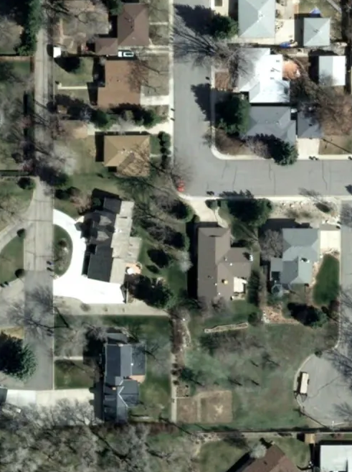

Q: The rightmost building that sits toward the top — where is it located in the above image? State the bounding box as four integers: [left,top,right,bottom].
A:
[319,55,346,84]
